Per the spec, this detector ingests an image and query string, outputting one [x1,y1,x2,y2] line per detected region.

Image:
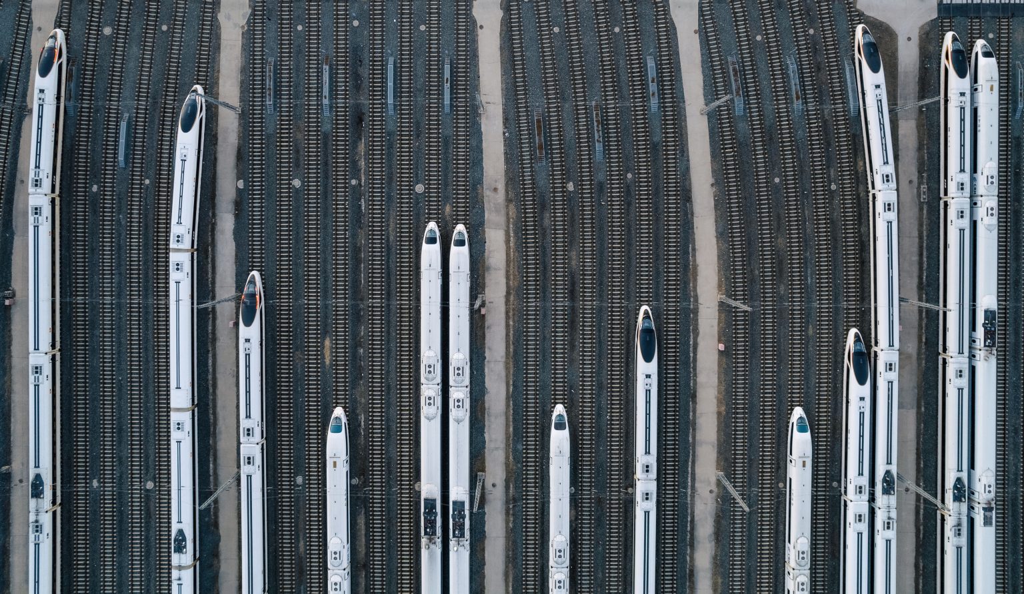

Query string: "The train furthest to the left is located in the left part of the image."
[29,29,68,594]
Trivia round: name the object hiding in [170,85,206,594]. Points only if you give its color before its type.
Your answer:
white train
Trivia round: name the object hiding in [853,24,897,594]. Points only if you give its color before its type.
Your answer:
white train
